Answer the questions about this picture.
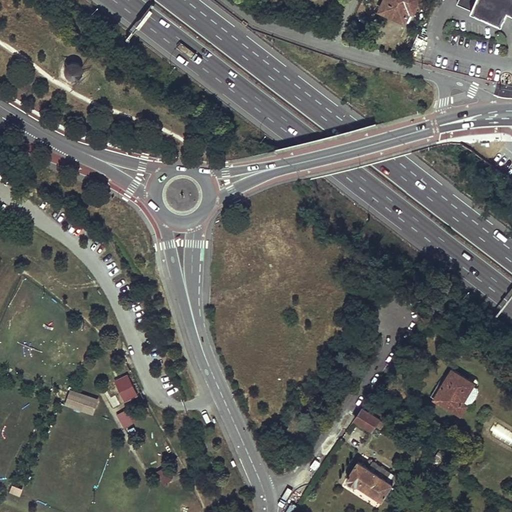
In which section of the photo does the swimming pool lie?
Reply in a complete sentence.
Look in the bottom right portion of the view to spot the swimming pool.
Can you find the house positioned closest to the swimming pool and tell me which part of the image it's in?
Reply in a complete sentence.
The house positioned closest to the swimming pool sits in the bottom right section of the image.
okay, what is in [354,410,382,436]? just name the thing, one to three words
house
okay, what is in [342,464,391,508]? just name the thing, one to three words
house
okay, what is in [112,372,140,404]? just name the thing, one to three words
building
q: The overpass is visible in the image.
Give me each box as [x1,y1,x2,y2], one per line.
[262,114,426,191]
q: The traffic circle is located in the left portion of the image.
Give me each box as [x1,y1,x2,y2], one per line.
[109,158,262,244]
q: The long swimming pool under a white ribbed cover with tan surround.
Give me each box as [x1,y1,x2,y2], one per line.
[482,416,512,450]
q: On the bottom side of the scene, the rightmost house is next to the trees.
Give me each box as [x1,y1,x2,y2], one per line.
[432,370,477,417]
